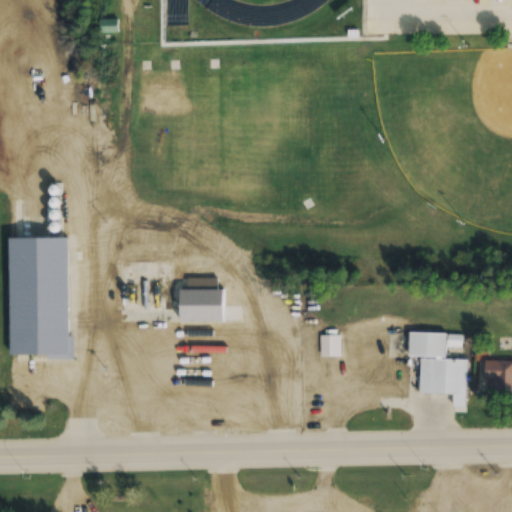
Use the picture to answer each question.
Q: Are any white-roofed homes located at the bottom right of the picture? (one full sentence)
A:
Yes, a white-roofed home is visible at the bottom right of the picture.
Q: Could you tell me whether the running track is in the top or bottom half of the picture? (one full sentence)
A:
The top half of the photo is where the running track is.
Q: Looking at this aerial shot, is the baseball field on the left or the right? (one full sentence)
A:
The baseball field appears in the right half of the scene.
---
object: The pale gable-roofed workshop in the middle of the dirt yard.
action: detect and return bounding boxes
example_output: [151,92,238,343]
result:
[178,278,225,322]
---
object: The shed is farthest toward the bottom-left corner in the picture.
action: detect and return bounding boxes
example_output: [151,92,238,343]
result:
[9,238,78,358]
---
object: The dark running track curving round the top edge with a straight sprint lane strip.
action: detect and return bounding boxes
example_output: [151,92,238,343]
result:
[168,0,331,28]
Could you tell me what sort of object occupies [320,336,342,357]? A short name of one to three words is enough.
shed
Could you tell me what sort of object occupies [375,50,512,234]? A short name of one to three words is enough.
baseball field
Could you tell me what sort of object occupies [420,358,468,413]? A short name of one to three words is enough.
house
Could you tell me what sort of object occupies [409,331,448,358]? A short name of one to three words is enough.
building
